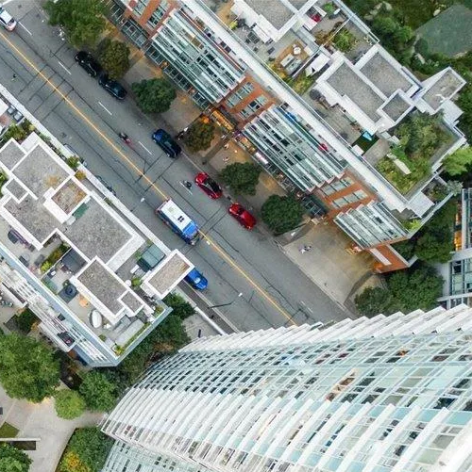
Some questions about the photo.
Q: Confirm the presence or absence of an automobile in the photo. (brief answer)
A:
Yes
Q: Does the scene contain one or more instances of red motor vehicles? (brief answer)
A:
Yes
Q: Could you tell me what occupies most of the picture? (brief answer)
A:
buildings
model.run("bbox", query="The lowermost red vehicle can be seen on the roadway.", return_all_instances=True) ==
[228,201,256,230]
